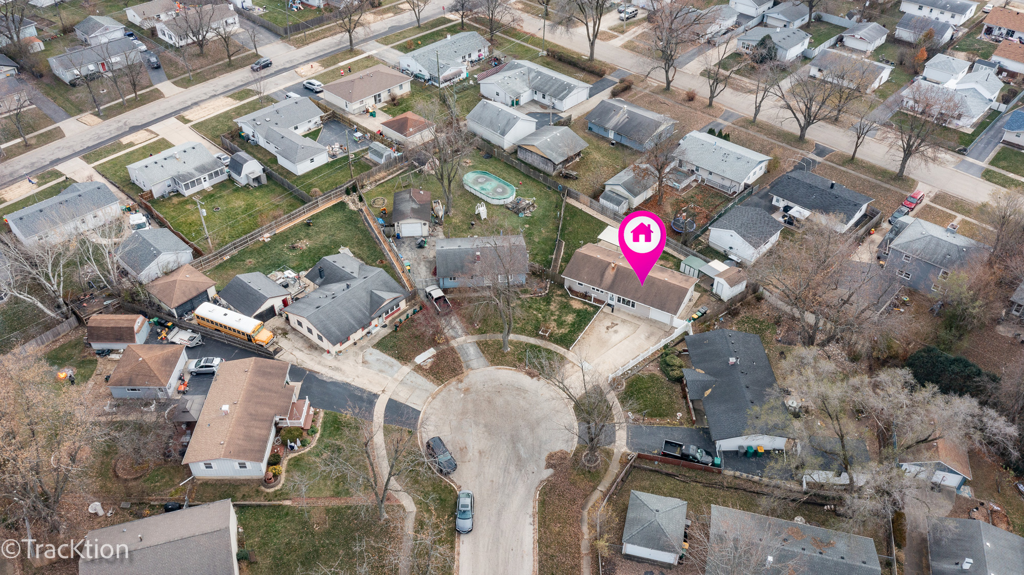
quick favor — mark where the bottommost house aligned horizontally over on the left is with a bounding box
[75,498,236,575]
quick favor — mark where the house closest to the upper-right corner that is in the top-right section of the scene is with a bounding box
[980,9,1024,46]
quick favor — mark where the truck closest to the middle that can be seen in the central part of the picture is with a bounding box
[424,287,452,315]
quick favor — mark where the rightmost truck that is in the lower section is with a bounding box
[661,435,713,465]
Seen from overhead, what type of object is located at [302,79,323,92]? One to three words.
vehicle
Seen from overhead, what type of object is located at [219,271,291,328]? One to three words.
building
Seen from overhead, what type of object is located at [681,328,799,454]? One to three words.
house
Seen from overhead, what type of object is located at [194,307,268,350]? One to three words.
bus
